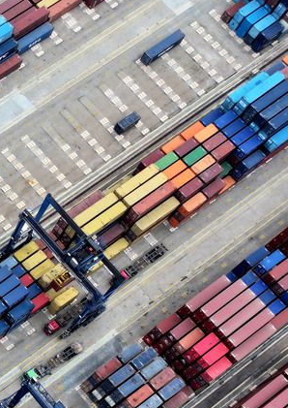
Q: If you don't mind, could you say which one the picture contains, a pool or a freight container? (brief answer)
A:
freight container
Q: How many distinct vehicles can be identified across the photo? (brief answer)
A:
three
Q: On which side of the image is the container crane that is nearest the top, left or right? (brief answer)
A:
left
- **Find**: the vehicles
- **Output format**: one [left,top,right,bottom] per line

[124,239,171,276]
[43,293,93,334]
[22,340,78,382]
